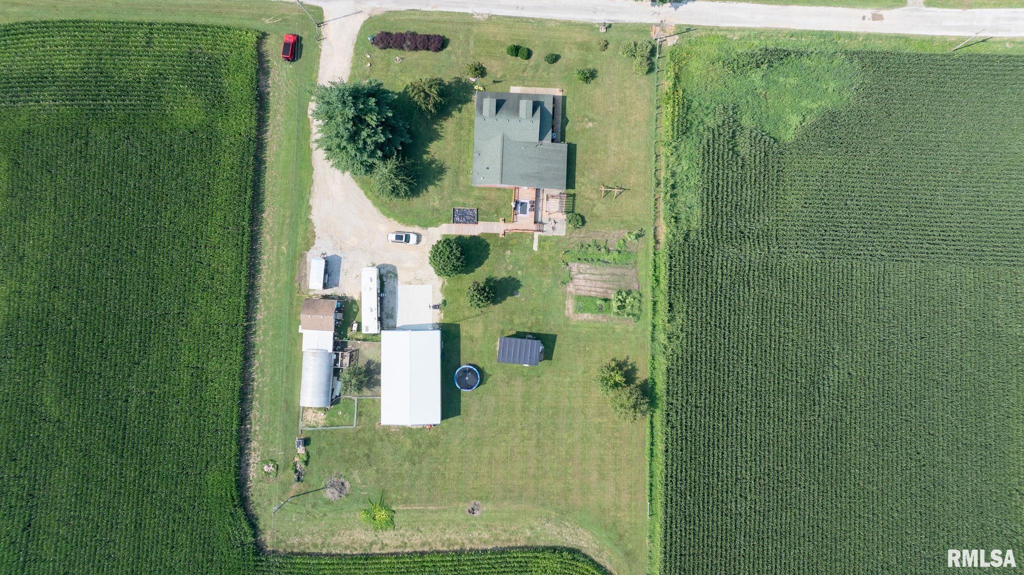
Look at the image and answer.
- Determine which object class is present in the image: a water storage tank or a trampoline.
trampoline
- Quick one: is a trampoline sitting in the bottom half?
Yes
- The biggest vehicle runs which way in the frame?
from top to bottom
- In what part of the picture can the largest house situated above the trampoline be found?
top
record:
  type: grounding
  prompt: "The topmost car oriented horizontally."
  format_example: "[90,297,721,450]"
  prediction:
[387,232,418,246]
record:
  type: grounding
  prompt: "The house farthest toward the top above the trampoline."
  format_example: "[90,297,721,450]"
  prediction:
[471,91,568,192]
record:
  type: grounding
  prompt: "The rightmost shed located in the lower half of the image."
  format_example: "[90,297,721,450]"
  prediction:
[498,337,541,366]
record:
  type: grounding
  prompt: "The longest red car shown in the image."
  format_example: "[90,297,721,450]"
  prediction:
[282,34,297,60]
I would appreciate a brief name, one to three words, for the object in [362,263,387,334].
vehicle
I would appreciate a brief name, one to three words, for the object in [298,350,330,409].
greenhouse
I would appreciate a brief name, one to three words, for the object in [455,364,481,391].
trampoline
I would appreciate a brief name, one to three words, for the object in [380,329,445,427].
barn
